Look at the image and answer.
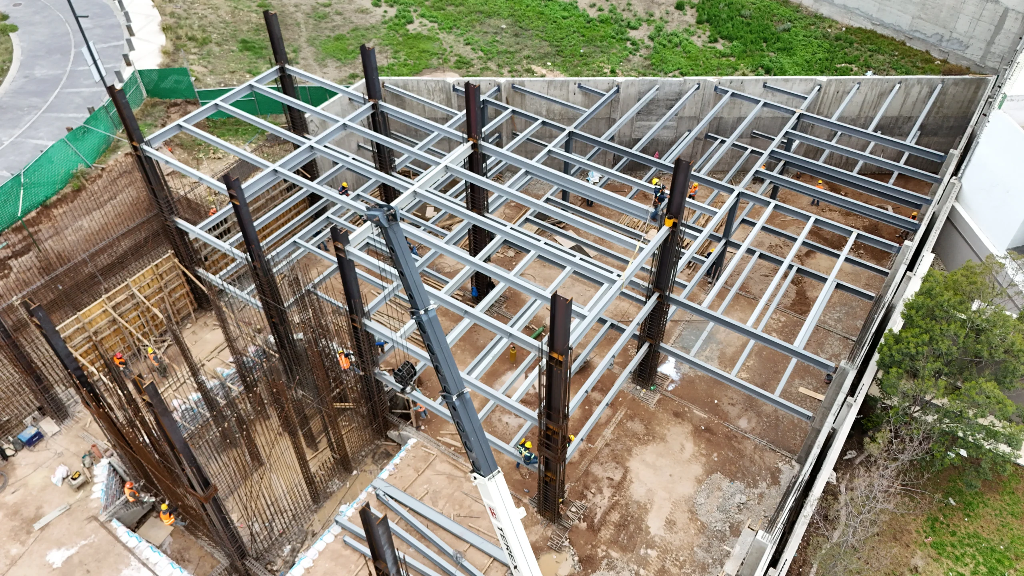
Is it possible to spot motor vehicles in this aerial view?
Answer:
No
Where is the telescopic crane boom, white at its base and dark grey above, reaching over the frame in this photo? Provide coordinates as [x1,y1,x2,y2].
[371,213,537,576]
